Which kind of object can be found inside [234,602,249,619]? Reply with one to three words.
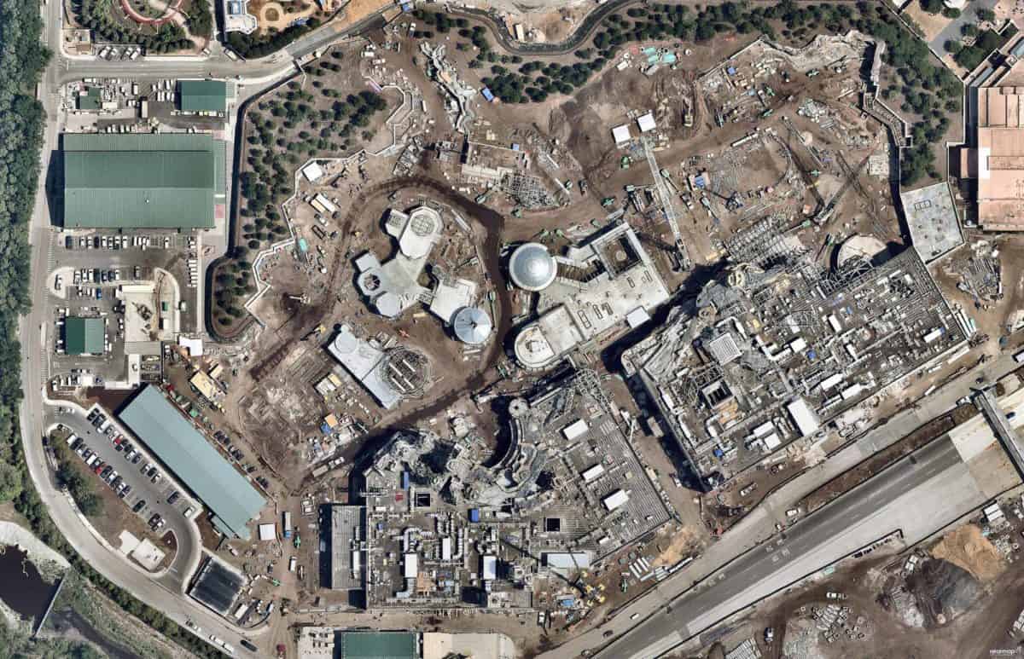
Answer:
vehicle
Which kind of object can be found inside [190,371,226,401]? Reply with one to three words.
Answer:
building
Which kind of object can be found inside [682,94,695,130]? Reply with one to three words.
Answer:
vehicle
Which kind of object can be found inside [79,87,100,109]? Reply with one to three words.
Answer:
shed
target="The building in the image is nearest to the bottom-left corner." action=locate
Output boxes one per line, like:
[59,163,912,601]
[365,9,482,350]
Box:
[132,539,165,571]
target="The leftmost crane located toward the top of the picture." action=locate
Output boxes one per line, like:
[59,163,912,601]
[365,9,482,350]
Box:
[645,136,699,281]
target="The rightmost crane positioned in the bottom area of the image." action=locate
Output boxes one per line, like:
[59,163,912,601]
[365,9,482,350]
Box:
[569,551,605,606]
